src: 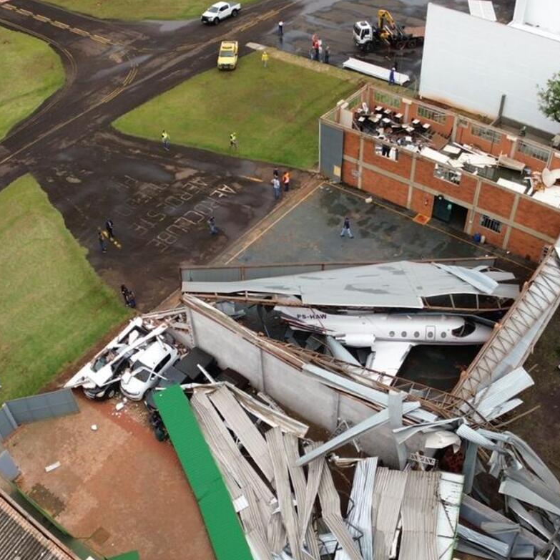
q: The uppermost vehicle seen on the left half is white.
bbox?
[198,1,241,26]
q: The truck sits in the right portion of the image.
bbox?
[350,0,426,51]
